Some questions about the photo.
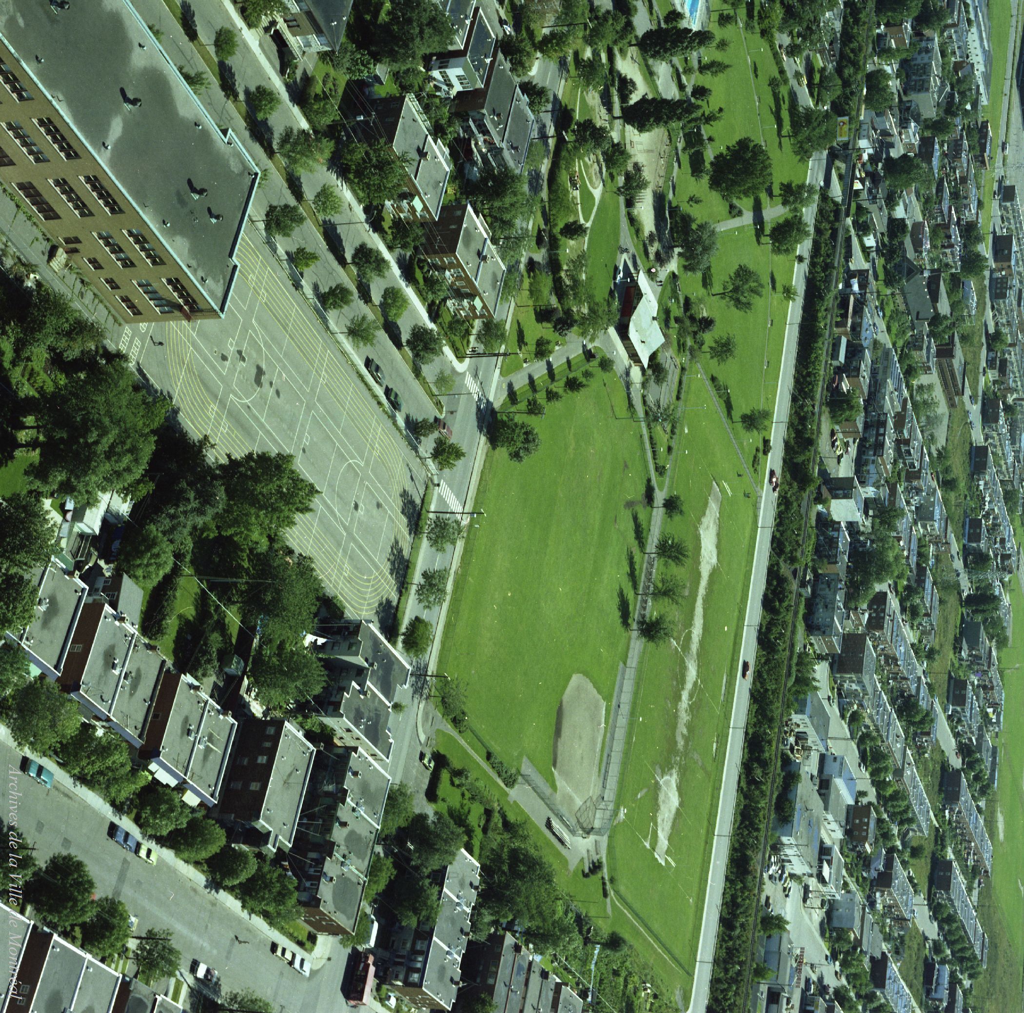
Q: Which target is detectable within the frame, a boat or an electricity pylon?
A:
electricity pylon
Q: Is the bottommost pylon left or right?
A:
right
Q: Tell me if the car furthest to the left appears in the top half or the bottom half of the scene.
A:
bottom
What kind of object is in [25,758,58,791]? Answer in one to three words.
car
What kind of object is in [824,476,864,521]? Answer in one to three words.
building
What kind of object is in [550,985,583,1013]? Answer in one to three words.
house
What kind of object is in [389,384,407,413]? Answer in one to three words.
car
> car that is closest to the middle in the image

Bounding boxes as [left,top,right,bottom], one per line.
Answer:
[439,416,455,442]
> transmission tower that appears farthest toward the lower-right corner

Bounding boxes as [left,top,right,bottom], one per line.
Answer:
[954,566,1019,591]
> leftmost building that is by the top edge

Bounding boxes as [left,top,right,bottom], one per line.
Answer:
[0,0,259,328]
